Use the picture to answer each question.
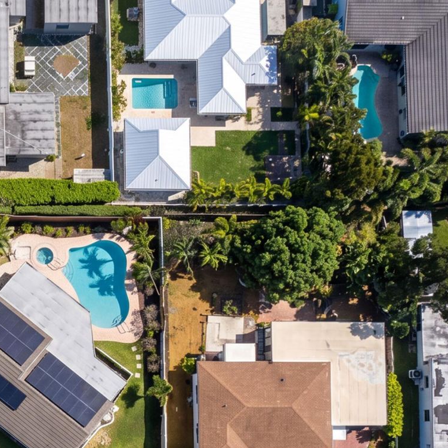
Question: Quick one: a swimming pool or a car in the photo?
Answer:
swimming pool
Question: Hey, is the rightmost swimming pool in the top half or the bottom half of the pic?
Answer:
top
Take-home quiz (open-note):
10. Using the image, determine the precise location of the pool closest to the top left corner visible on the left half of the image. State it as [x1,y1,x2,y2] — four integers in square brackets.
[131,76,180,109]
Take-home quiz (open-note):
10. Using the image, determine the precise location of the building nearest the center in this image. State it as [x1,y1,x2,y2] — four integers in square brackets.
[124,118,191,192]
